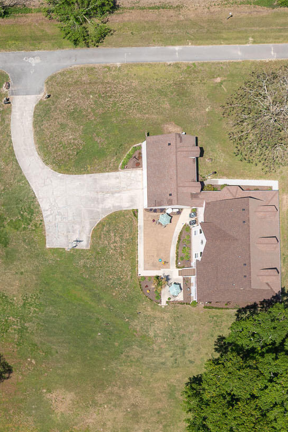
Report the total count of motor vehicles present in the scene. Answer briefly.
none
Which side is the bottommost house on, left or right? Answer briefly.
right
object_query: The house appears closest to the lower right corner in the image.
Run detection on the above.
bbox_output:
[190,185,280,301]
